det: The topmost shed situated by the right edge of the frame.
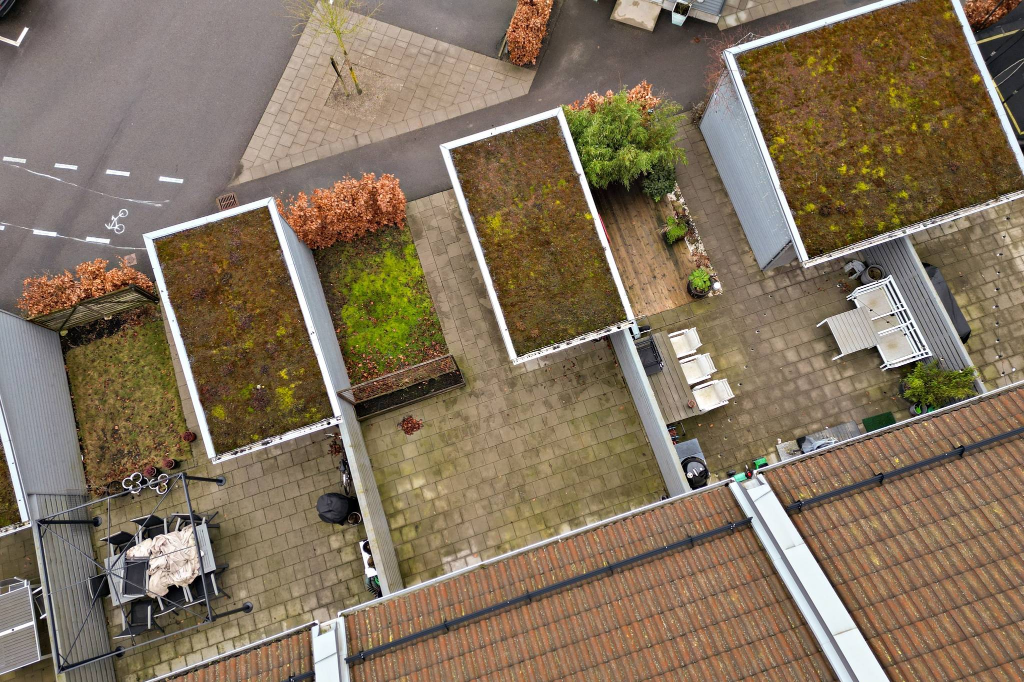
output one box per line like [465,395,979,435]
[698,0,1024,275]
